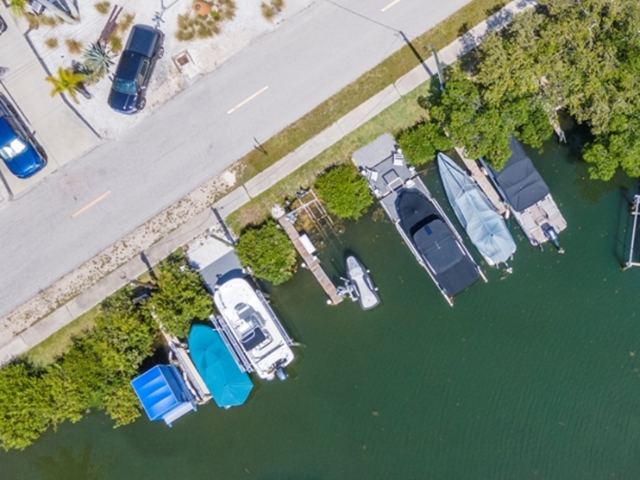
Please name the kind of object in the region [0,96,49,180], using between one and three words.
truck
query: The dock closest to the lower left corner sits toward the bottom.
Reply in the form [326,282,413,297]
[170,330,209,407]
